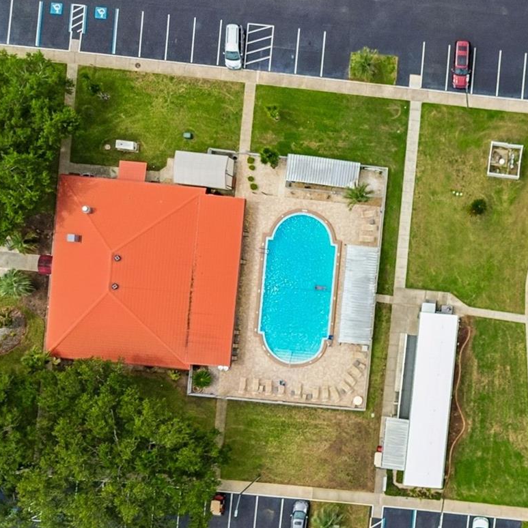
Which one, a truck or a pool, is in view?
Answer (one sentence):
It is a pool that can be seen here.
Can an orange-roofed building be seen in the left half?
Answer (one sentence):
Yes, I can see an orange-roofed building in the left half.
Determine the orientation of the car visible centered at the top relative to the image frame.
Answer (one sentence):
The car visible centered at the top has been laid out up and down relative to the frame.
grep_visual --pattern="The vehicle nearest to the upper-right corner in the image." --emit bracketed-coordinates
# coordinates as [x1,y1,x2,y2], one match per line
[450,42,470,90]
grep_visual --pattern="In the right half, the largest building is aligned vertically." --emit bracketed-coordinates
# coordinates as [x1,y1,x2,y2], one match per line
[382,301,459,489]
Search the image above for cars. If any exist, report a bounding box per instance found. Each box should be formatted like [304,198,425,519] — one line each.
[222,23,243,69]
[473,515,489,528]
[450,42,470,90]
[290,499,310,528]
